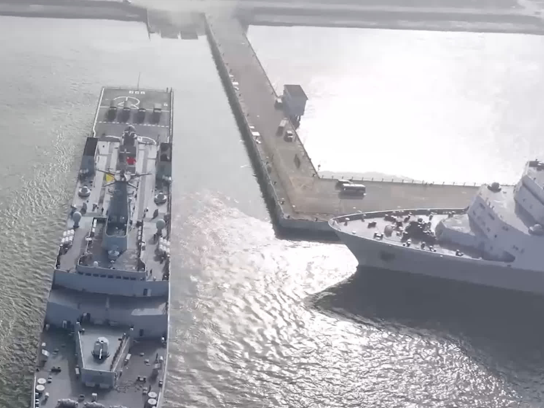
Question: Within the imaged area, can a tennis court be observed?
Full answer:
No, the scene contains no tennis court.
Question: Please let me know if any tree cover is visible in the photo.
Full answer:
No, there is no tree cover in the image.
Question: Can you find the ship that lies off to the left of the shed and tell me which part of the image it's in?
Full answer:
The ship that lies off to the left of the shed is in the left part of the image.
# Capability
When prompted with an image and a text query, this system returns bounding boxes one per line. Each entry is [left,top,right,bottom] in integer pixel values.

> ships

[328,165,544,299]
[31,69,173,408]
